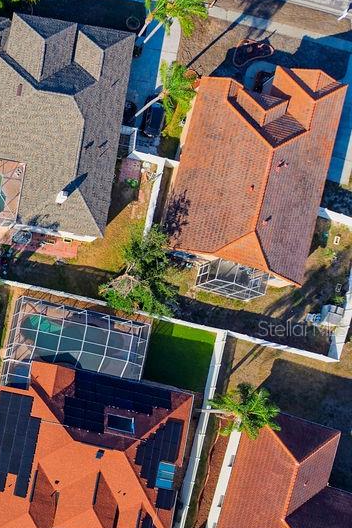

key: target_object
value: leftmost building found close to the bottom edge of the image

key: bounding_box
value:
[0,361,193,528]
